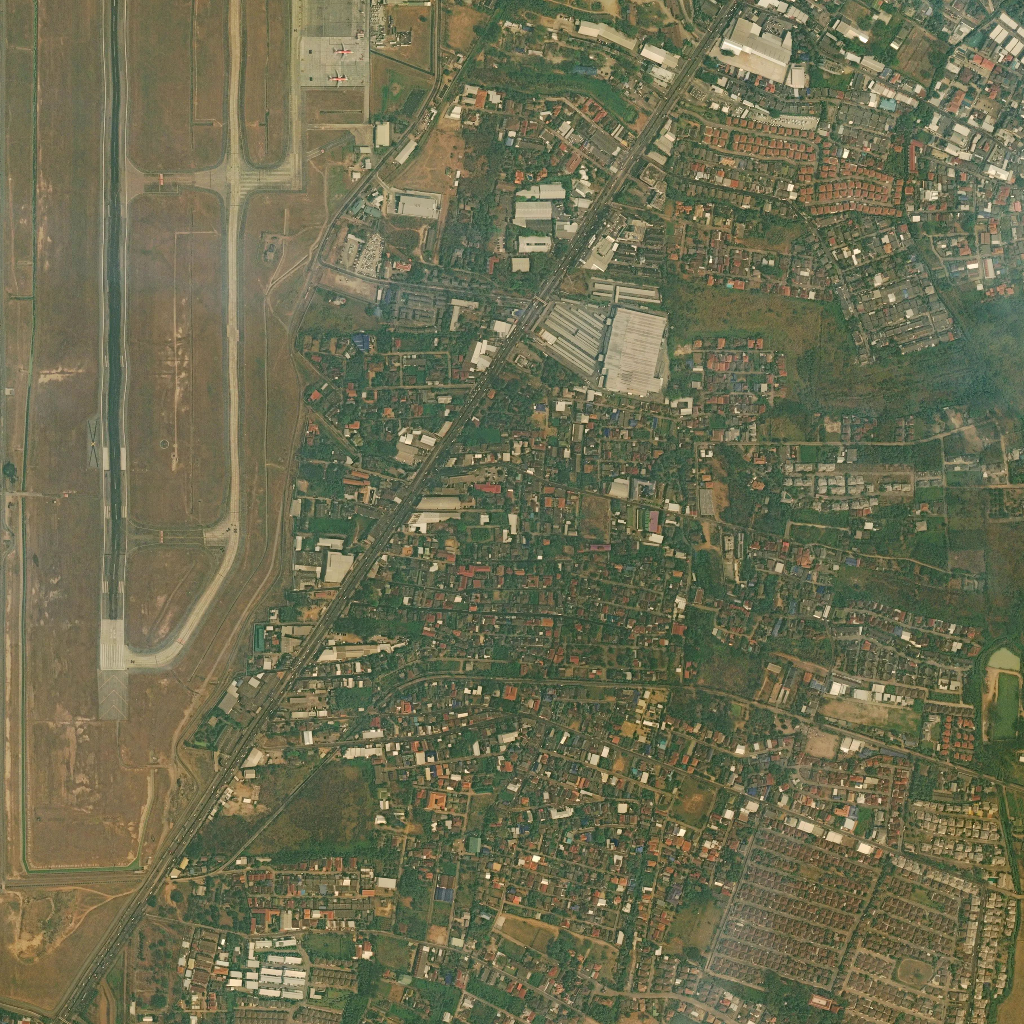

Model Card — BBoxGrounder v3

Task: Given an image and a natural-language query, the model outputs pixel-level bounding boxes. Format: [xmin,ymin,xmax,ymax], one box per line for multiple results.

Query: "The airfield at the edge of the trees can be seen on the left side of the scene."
[5,0,374,768]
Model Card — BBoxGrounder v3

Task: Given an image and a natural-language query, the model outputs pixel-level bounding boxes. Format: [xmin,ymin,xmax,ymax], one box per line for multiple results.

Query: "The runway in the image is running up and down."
[97,0,130,720]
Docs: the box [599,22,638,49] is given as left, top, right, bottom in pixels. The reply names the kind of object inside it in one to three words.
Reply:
building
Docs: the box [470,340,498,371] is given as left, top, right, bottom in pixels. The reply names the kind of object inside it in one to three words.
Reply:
building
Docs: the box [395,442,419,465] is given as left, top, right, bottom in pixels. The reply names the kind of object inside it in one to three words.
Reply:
shed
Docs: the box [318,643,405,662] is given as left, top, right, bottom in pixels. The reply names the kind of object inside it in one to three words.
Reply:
shed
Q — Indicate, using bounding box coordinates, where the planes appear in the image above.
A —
[329,71,348,88]
[335,44,354,61]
